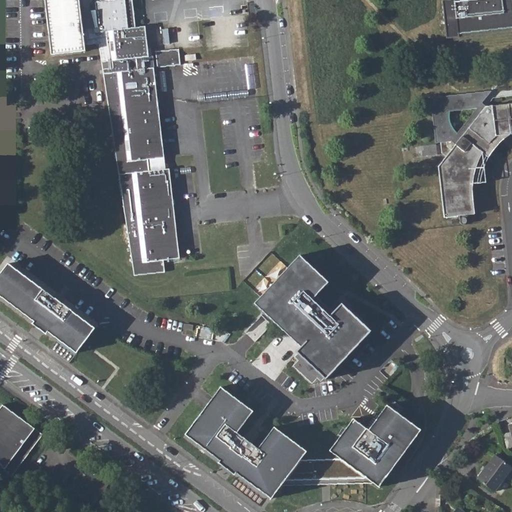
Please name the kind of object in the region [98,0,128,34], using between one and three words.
building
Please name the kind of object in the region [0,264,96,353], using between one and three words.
building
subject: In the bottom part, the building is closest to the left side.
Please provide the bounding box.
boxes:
[0,404,35,478]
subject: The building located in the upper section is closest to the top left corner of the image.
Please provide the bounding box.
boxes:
[46,0,85,54]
